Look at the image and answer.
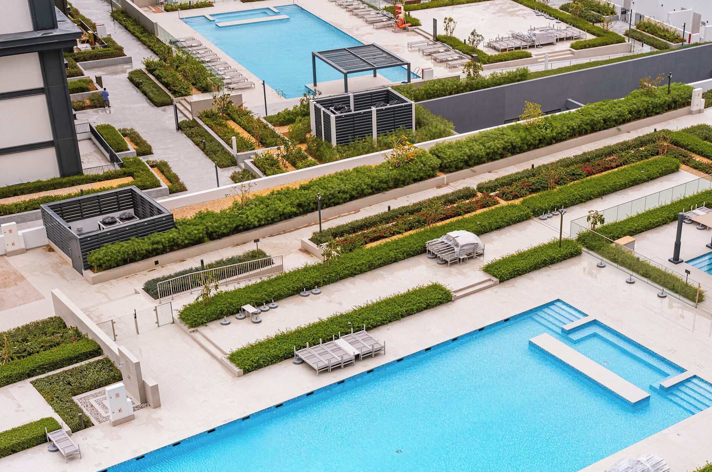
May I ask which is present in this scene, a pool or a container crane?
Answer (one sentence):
The one in the frame is a pool.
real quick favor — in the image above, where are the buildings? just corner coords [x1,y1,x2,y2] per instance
[0,0,84,189]
[609,0,712,40]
